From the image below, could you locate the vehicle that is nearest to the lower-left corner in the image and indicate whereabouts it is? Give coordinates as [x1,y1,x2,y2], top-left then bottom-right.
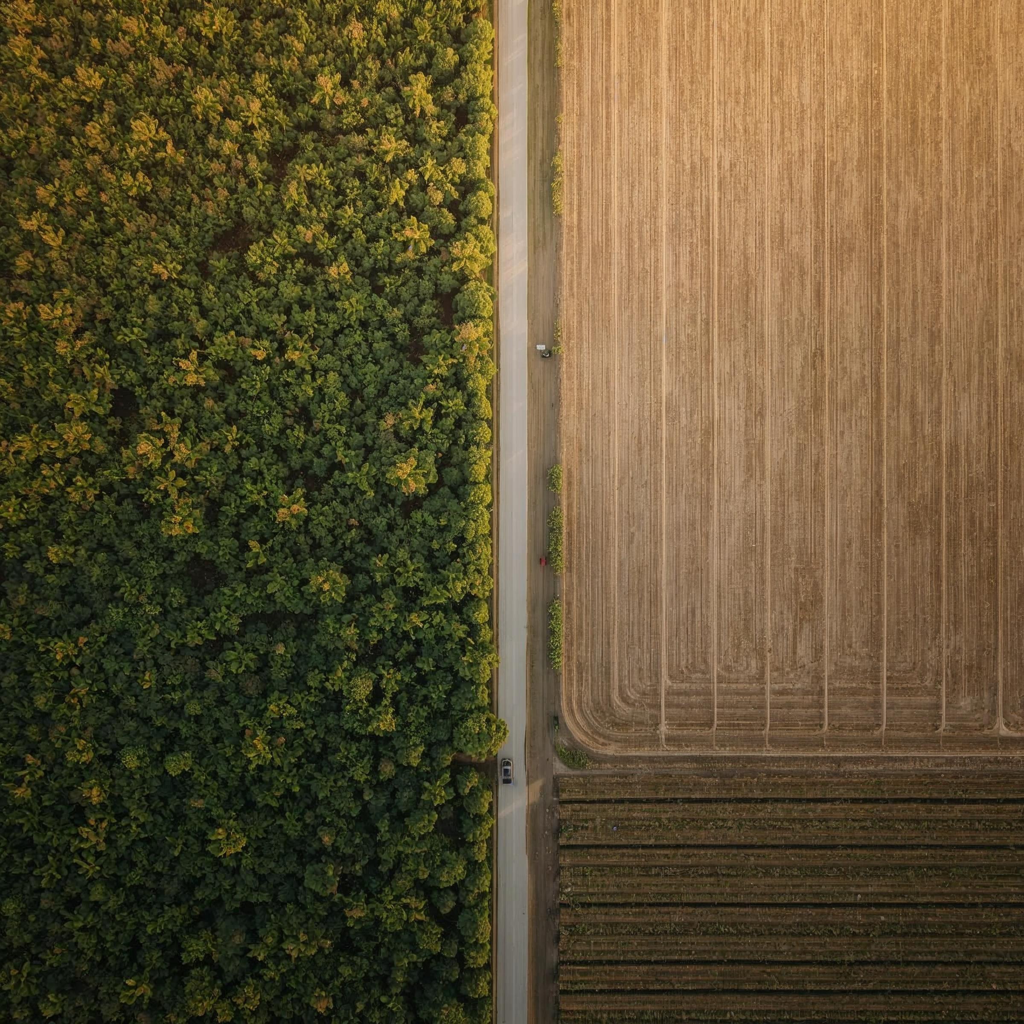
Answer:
[502,758,514,786]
